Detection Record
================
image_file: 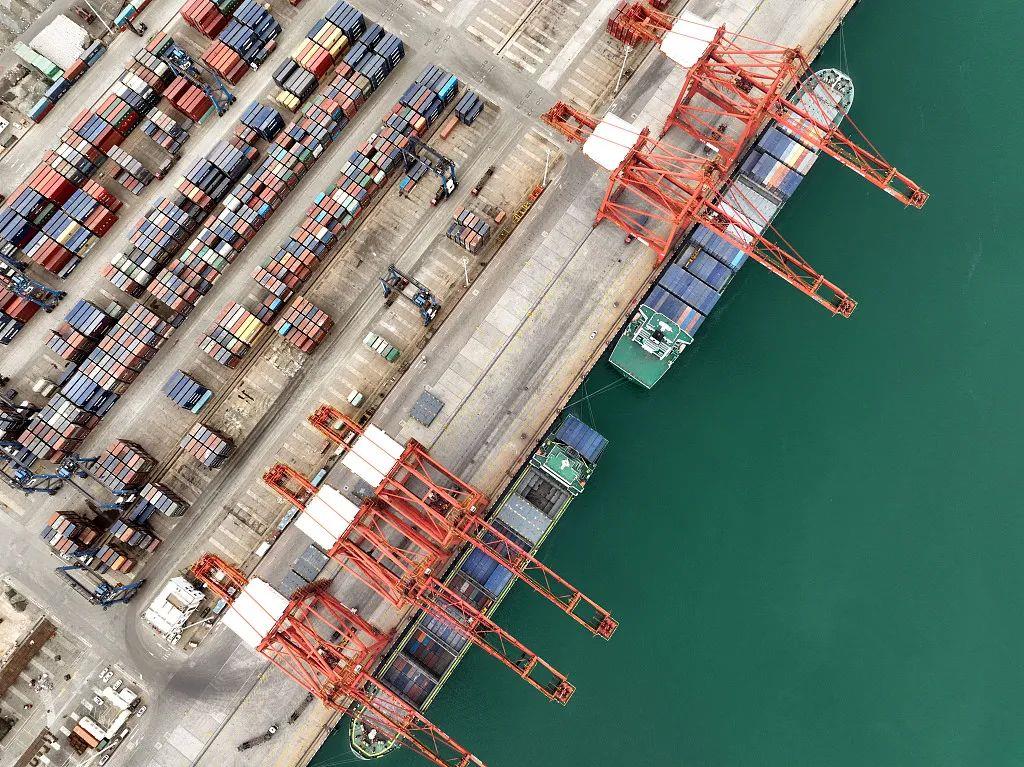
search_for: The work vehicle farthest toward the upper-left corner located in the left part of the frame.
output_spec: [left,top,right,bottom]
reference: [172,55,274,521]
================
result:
[67,1,94,22]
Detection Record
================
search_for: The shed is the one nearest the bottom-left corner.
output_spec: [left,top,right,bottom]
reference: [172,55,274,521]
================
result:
[14,729,56,767]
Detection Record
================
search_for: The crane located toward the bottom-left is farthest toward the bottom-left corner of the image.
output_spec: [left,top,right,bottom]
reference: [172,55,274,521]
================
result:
[57,550,141,610]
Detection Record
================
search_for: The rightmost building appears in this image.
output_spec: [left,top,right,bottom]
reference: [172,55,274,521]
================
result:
[138,578,211,641]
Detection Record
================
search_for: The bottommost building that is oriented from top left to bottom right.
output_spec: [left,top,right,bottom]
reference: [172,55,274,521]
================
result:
[77,717,106,743]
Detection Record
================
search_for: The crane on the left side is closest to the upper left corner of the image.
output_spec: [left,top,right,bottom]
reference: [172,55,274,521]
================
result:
[163,47,234,115]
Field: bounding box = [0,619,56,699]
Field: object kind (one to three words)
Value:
shed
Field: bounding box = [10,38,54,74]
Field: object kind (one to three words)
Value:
shed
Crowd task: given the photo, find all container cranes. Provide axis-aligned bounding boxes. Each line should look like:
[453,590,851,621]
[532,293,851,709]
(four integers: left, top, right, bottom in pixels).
[306,401,621,643]
[262,459,577,709]
[541,93,862,317]
[399,136,459,200]
[57,550,141,610]
[0,442,58,496]
[378,266,441,327]
[619,0,936,207]
[56,456,138,510]
[190,552,484,767]
[0,252,66,313]
[163,47,234,115]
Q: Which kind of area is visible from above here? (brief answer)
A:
port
